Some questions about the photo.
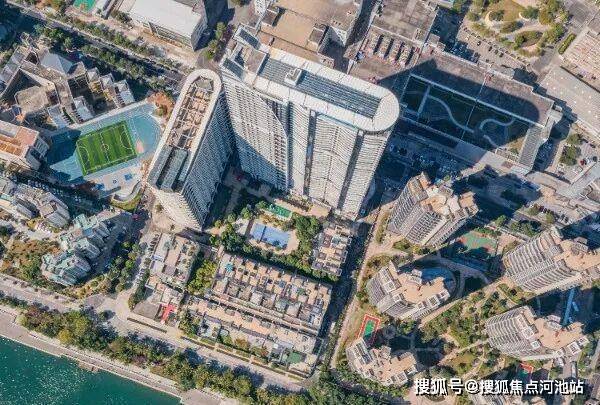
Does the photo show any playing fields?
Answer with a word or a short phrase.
Yes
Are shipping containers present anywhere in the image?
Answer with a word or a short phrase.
No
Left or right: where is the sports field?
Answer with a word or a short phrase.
left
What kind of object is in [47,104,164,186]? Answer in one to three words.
sports field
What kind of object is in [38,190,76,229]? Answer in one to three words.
house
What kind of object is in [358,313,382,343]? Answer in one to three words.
sports court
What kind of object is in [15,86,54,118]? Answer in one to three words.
building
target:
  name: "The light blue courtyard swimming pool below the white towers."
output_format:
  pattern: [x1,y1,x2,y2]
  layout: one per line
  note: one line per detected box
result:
[236,214,300,251]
